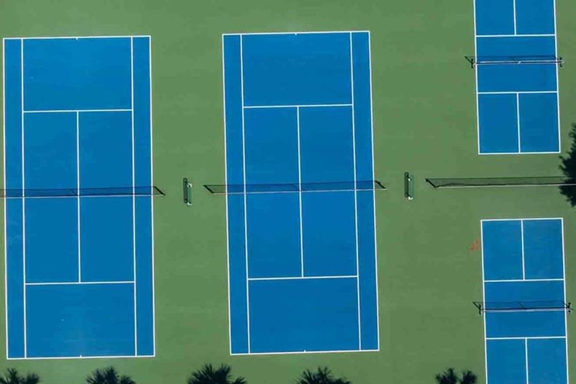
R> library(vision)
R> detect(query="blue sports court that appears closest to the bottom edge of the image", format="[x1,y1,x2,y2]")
[482,218,568,384]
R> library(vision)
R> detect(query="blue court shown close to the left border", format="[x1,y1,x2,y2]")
[2,35,156,360]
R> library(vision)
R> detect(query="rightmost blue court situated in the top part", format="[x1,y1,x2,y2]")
[474,0,560,154]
